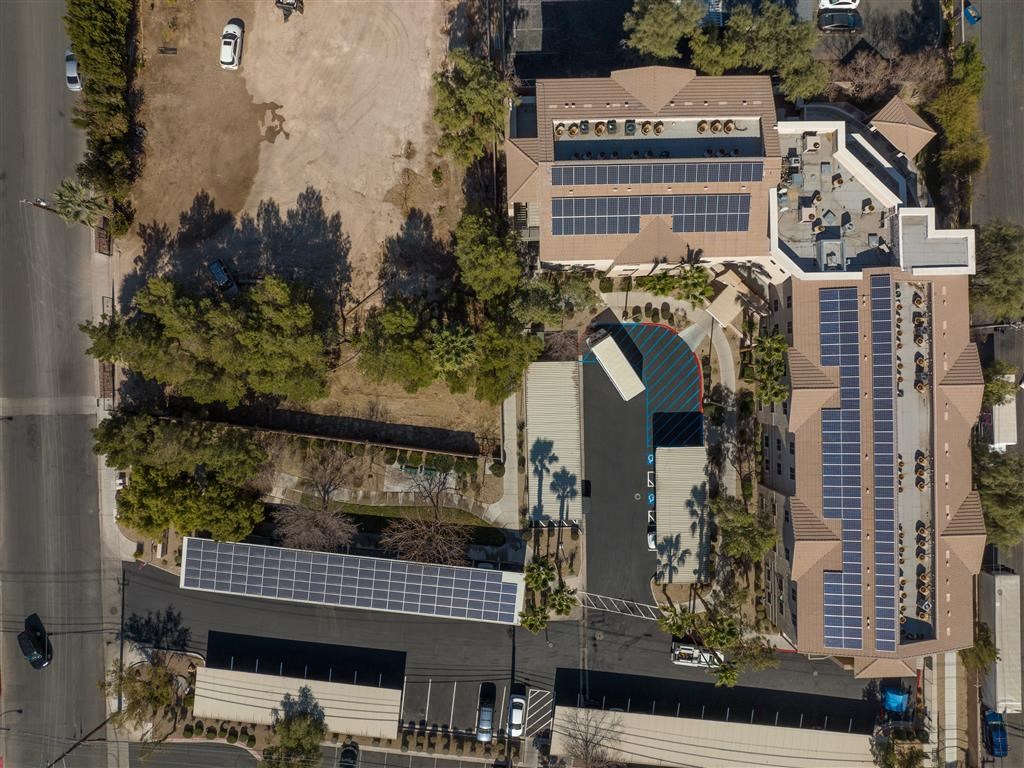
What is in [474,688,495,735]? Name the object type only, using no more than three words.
car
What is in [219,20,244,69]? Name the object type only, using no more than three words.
car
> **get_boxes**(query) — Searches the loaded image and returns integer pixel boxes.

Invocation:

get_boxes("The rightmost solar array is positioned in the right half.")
[871,274,896,652]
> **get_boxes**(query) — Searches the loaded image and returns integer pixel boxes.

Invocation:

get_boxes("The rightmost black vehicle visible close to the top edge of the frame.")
[815,8,863,32]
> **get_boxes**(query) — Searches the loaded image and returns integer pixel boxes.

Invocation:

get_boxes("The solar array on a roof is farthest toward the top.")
[552,163,764,186]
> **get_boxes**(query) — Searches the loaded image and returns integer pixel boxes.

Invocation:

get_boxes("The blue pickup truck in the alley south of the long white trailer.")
[981,704,1007,755]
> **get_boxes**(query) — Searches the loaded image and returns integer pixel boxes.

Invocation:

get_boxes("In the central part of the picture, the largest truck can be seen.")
[583,328,644,400]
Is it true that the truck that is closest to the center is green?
No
